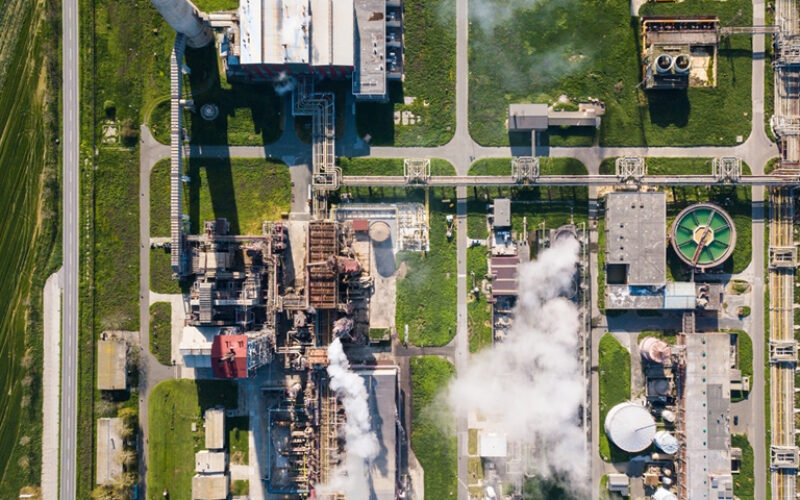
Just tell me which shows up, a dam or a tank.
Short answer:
tank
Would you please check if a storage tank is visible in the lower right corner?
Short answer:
Yes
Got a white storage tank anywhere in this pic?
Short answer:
Yes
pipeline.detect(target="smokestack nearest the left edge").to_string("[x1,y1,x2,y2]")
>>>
[147,0,219,52]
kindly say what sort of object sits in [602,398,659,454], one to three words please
storage tank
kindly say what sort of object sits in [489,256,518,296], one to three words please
building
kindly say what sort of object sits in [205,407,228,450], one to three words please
shed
